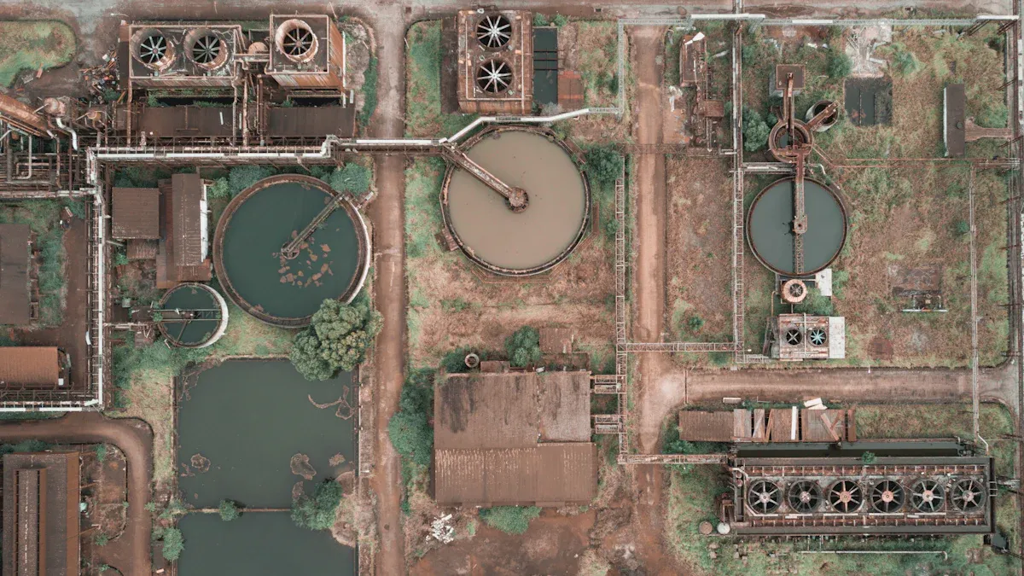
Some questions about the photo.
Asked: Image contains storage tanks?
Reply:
Yes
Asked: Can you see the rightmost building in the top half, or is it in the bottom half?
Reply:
top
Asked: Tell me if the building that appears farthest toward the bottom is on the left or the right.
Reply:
left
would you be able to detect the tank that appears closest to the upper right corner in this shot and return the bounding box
[801,98,842,135]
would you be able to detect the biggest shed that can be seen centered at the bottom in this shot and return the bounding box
[434,371,597,507]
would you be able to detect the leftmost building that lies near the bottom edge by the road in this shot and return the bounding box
[3,451,85,576]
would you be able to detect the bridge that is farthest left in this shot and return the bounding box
[285,194,343,256]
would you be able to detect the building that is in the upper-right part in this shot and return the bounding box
[945,84,965,155]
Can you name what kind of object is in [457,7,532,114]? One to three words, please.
cooling tower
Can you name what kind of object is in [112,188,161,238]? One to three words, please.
building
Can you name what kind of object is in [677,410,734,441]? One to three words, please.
shed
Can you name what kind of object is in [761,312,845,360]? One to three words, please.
cooling tower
